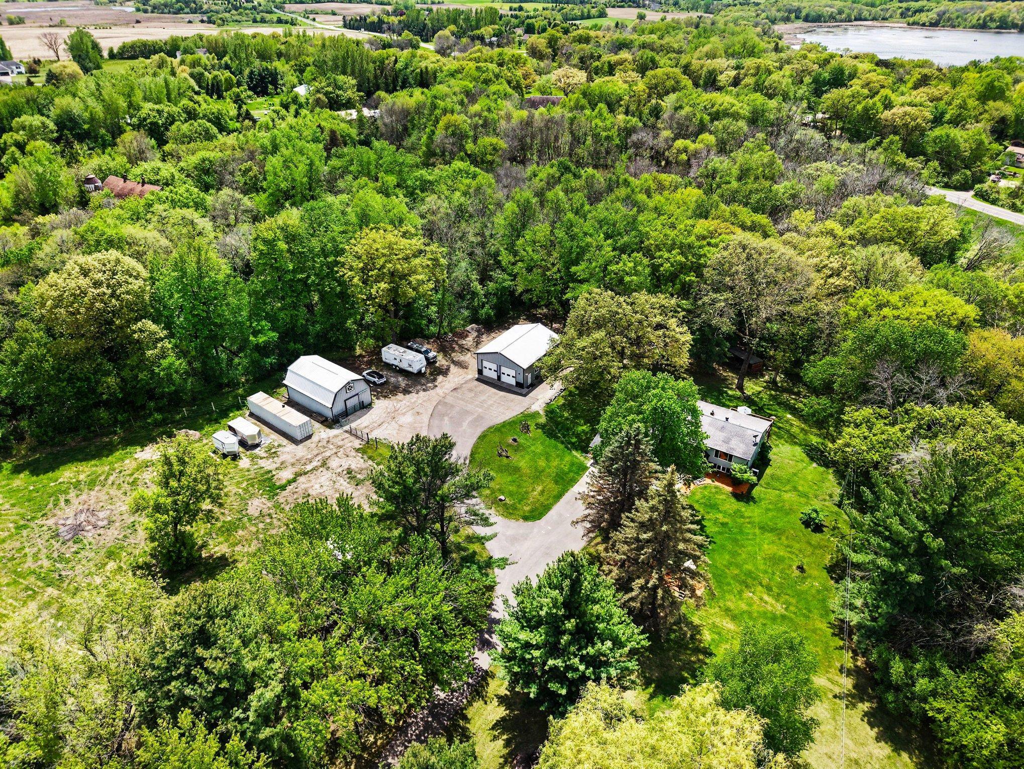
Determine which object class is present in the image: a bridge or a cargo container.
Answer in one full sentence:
I can see a cargo container in this picture.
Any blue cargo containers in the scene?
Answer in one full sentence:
No, no blue cargo container is visible in the scene.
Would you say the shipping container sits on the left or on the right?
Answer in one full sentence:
You can find the shipping container on the left side of the picture.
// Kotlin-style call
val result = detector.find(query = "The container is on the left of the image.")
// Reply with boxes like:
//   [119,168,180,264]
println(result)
[247,391,313,440]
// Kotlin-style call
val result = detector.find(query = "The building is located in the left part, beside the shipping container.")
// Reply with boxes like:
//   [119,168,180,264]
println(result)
[287,357,372,421]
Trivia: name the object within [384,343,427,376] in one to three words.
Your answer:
trailer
